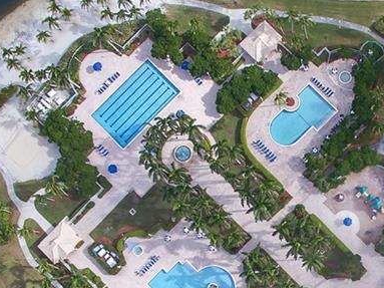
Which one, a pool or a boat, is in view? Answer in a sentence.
Looking from above, you can make out a pool.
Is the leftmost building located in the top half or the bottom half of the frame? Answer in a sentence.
The leftmost building is in the bottom half of the image.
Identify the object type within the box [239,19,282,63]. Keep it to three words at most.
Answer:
building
